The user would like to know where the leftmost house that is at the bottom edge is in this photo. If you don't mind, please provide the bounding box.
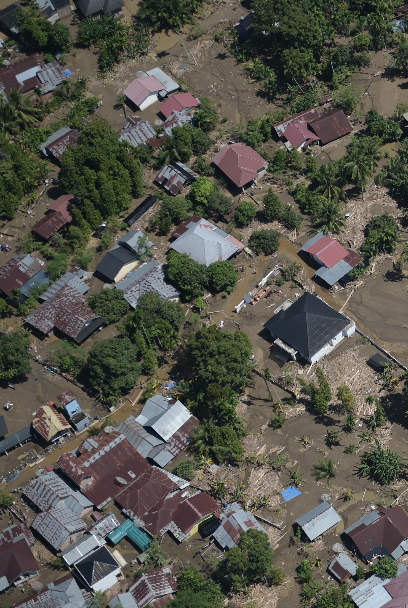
[0,519,41,595]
